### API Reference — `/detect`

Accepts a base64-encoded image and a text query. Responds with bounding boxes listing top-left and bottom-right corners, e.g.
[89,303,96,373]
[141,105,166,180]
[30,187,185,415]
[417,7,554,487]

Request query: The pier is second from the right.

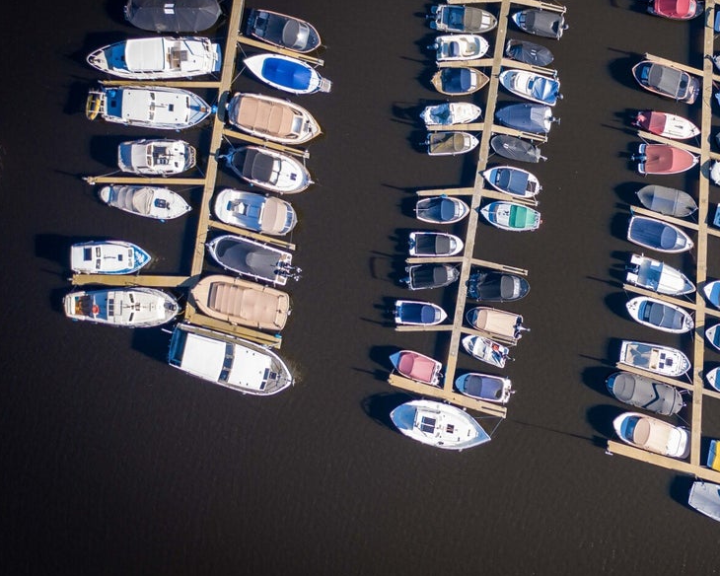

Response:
[385,0,570,422]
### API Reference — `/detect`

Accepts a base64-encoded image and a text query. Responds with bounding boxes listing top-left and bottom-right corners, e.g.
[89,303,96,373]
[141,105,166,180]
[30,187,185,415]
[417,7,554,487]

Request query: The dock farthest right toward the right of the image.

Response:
[603,0,720,487]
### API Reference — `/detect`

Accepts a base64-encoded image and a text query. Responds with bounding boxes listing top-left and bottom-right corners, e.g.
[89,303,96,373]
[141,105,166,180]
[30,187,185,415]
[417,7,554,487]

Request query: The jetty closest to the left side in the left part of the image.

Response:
[61,0,328,350]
